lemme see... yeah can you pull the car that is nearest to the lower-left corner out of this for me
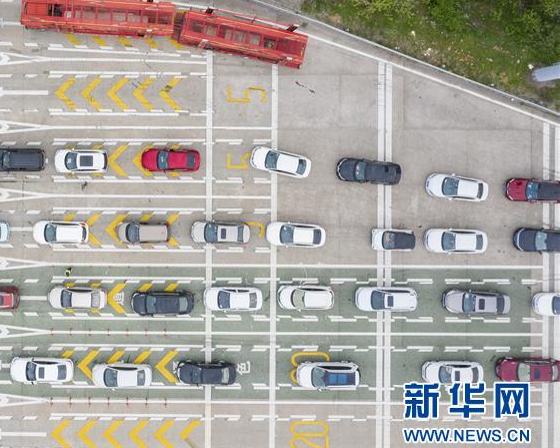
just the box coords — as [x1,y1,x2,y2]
[11,356,73,385]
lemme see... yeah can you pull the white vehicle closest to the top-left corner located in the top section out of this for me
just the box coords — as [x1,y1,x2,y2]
[54,147,107,174]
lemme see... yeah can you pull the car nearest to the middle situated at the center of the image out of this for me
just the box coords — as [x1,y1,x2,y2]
[265,220,326,248]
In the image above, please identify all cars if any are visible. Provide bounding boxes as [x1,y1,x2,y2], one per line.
[116,219,170,246]
[441,287,511,315]
[420,358,485,387]
[276,284,334,312]
[203,285,263,313]
[0,146,45,173]
[33,218,89,246]
[132,289,194,317]
[354,285,418,313]
[176,359,237,387]
[0,286,19,309]
[492,357,560,384]
[423,172,488,202]
[265,220,326,248]
[370,227,418,252]
[54,147,107,174]
[334,155,401,185]
[423,227,487,255]
[141,147,200,174]
[502,175,560,204]
[296,360,361,389]
[528,290,560,318]
[11,356,73,385]
[250,145,310,177]
[190,219,249,246]
[510,226,560,254]
[49,285,107,312]
[92,361,152,389]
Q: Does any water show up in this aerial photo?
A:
No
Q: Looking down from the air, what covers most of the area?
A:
paved ground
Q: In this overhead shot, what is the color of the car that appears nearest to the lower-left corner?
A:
white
